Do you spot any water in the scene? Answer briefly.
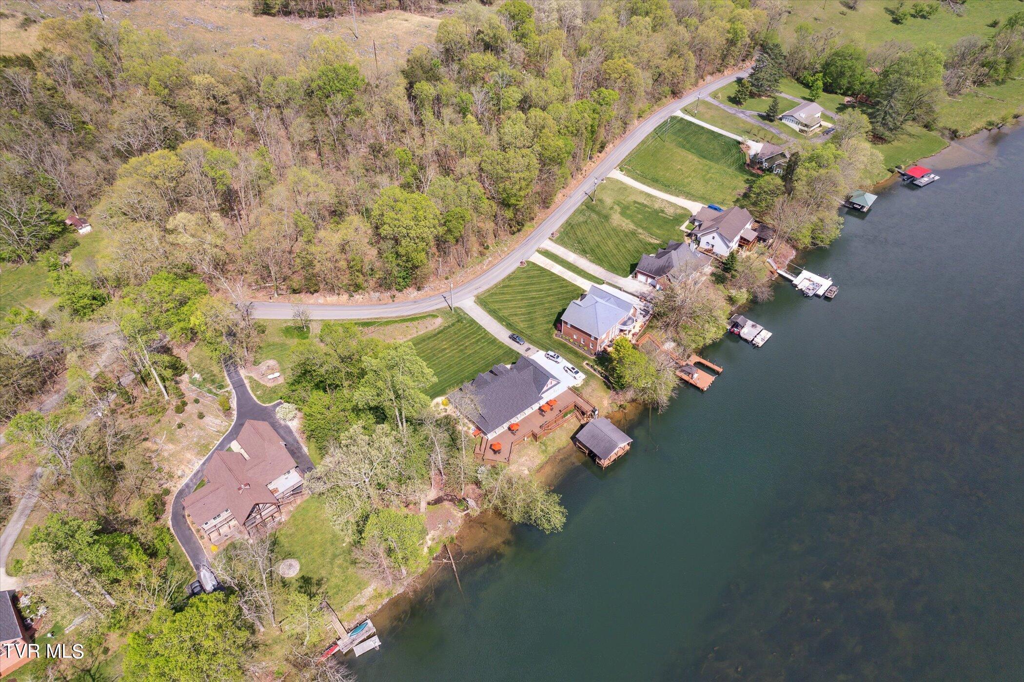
Yes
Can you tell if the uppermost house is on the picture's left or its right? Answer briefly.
right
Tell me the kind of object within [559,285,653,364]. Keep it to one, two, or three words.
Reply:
house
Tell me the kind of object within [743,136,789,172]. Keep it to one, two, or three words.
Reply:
house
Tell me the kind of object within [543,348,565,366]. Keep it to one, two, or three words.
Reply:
car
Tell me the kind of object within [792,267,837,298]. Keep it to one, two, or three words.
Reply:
pier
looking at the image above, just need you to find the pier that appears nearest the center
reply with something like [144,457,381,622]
[676,354,724,393]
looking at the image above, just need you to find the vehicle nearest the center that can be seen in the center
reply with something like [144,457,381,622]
[507,331,527,347]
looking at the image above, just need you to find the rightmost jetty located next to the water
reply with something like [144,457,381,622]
[895,165,939,187]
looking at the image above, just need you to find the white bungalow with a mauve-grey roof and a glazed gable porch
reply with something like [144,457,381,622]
[781,100,824,137]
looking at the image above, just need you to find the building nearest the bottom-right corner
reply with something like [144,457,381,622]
[575,418,633,470]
